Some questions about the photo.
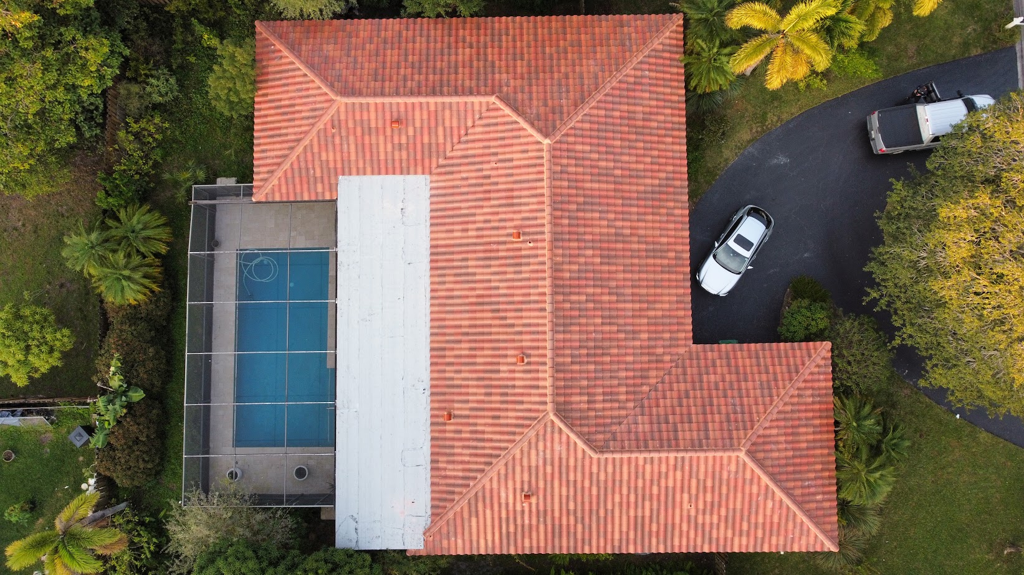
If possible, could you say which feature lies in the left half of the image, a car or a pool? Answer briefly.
pool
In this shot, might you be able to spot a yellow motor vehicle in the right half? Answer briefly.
No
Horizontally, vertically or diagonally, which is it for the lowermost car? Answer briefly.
diagonally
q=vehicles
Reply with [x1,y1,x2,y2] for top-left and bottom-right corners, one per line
[697,203,777,295]
[865,83,1002,156]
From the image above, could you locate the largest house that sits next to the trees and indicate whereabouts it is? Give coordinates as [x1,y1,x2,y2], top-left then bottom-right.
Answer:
[251,11,843,556]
